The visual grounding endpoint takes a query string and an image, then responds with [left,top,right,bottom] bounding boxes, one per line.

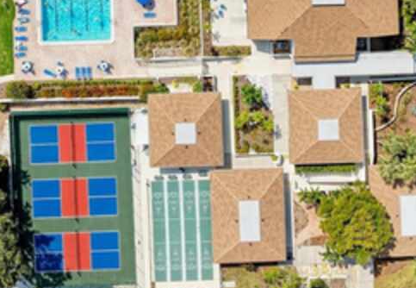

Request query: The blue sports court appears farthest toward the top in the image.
[30,121,116,167]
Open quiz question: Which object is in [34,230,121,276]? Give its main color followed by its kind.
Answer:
blue sports court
